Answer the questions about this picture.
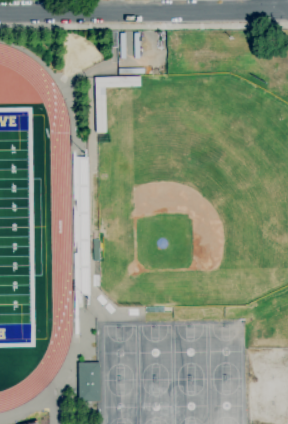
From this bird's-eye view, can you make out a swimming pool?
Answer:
No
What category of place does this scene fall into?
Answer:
sports ground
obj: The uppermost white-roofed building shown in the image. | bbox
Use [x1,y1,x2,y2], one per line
[94,75,140,131]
